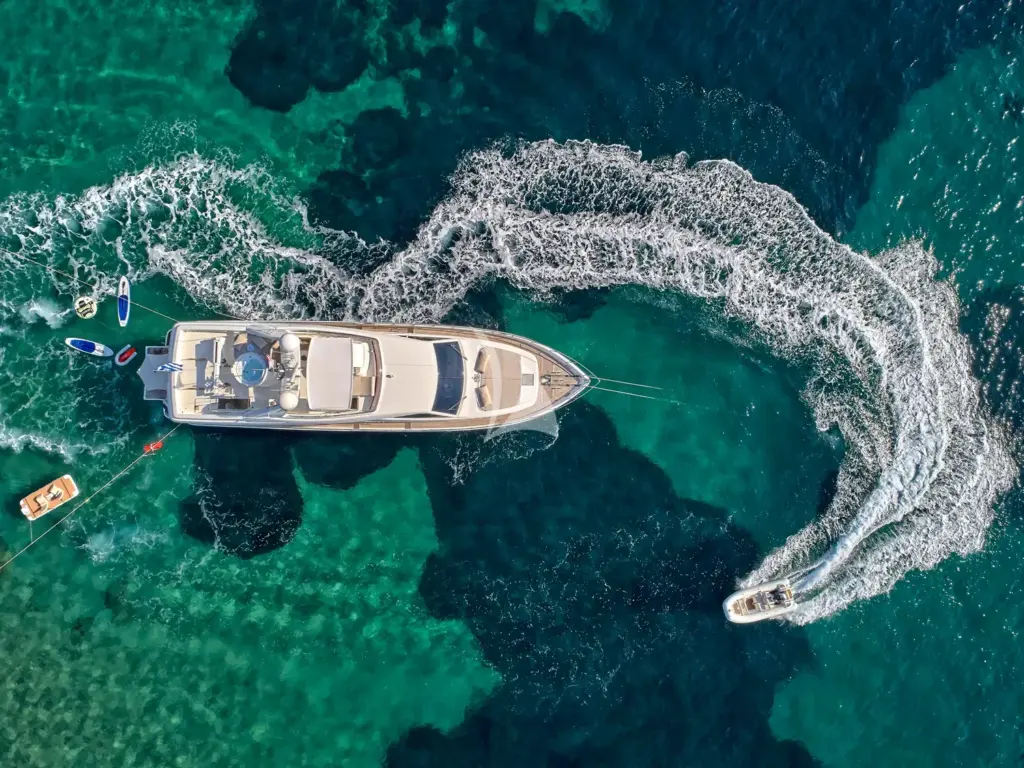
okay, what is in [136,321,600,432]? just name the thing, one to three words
boat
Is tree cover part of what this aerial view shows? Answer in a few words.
No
